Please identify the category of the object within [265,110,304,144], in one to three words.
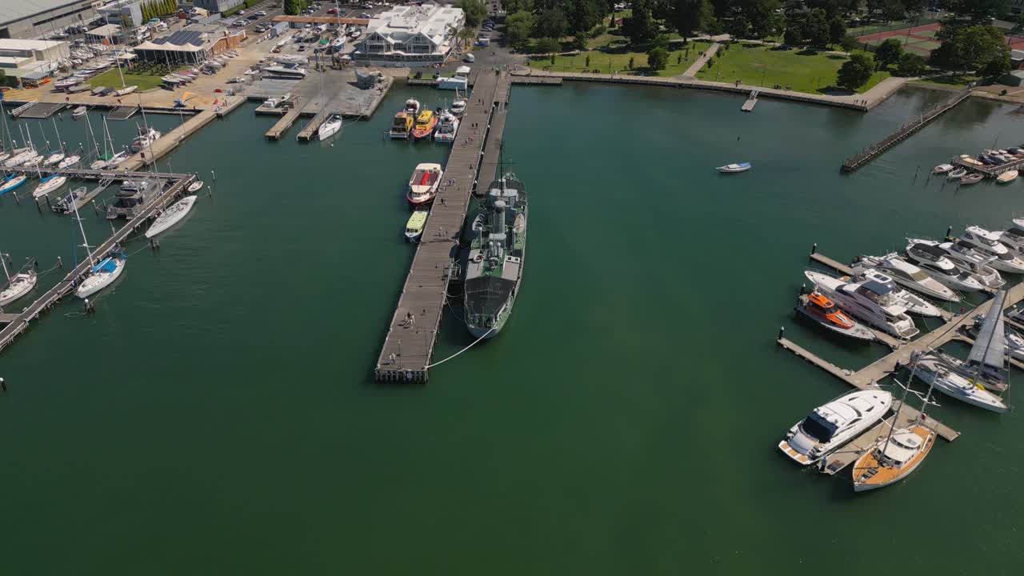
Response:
pier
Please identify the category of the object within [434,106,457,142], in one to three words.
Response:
boat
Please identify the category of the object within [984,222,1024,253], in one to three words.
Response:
boat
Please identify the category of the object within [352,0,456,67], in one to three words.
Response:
building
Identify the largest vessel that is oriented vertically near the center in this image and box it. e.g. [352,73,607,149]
[460,136,529,345]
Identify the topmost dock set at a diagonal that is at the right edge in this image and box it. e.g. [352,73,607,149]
[842,87,973,172]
